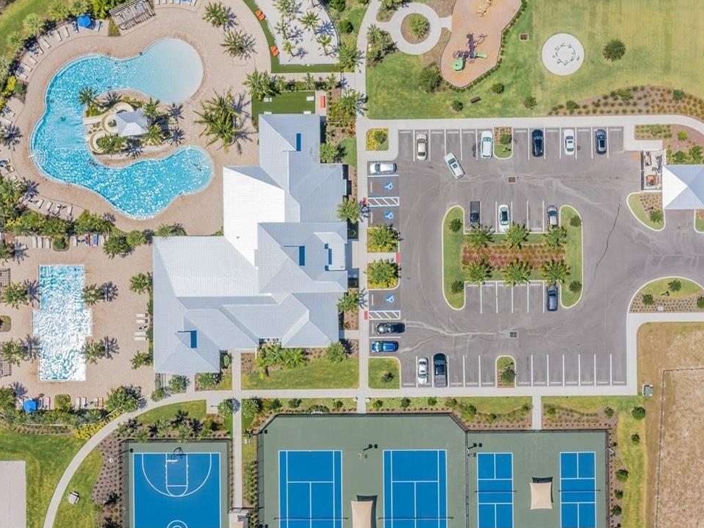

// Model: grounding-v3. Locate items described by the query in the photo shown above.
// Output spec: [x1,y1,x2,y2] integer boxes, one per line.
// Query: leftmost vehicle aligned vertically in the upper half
[415,133,428,160]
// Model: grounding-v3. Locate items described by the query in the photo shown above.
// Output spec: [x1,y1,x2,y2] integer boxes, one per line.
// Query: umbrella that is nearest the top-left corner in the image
[78,14,92,28]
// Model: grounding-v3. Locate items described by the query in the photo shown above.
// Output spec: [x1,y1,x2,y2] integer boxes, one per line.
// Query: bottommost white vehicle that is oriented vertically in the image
[417,357,429,385]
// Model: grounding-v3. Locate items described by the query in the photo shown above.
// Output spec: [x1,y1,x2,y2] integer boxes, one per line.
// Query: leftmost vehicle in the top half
[369,161,395,174]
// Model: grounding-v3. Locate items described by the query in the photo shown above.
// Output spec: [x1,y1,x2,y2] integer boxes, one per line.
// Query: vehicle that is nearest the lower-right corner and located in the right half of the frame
[546,282,559,309]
